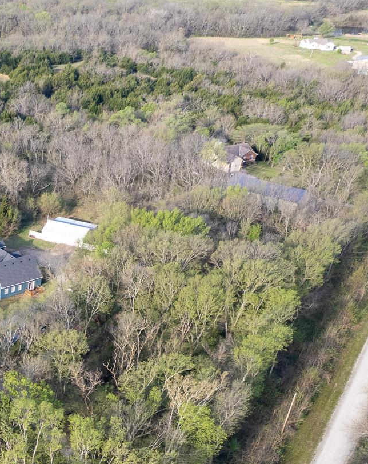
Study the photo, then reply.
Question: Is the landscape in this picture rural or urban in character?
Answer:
rural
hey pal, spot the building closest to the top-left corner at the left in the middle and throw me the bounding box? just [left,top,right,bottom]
[40,211,93,247]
